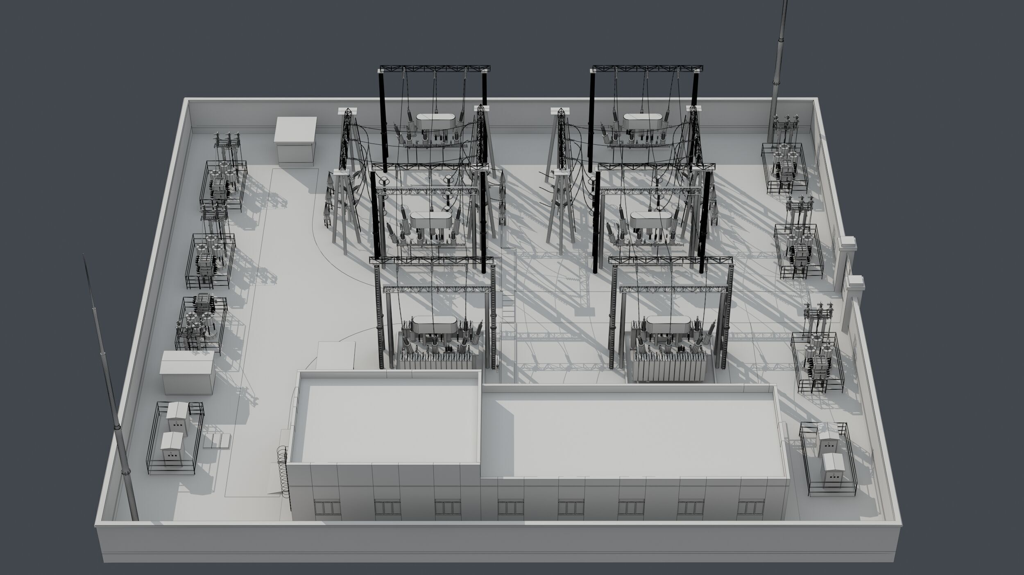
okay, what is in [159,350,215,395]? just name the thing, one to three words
shed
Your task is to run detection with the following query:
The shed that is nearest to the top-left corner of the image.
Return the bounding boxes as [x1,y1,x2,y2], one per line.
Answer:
[273,116,318,166]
